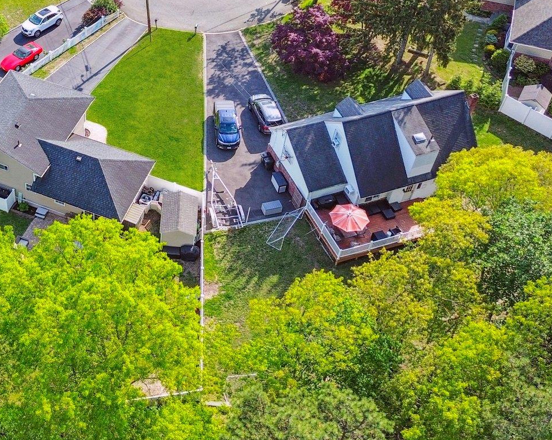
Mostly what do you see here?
trees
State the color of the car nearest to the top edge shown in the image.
white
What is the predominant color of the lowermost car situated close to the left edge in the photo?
red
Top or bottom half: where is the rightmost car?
top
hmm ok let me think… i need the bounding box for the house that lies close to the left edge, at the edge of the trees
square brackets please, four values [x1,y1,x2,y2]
[0,70,159,242]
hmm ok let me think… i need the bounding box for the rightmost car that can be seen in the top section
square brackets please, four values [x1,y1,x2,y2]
[253,92,286,135]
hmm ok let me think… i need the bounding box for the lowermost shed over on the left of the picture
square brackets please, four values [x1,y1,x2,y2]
[160,191,197,244]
